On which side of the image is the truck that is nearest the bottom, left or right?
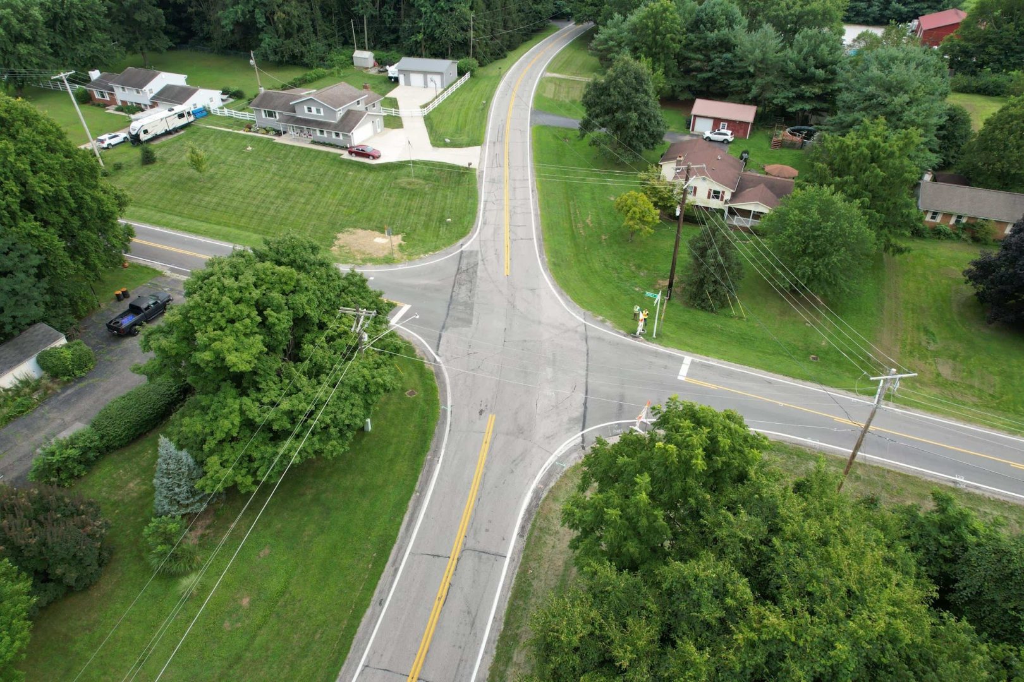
left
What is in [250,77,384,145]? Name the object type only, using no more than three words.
house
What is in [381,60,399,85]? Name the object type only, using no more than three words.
vehicle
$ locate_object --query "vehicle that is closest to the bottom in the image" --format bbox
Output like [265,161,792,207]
[100,291,171,331]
